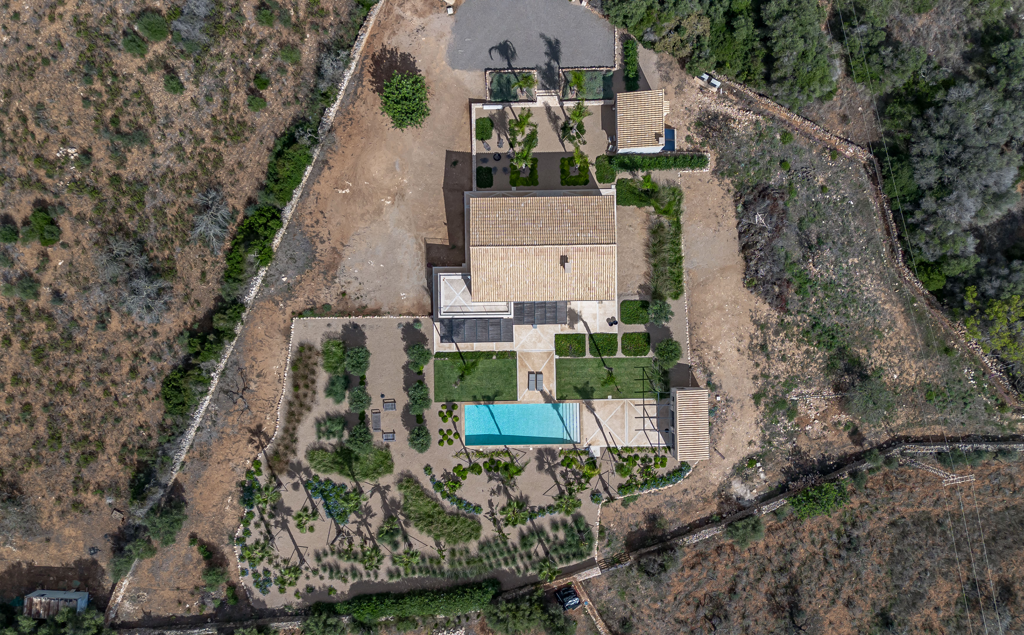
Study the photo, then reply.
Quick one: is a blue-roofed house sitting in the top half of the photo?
No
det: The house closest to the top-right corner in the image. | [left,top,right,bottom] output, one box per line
[615,88,672,152]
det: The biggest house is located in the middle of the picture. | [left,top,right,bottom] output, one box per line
[439,195,617,318]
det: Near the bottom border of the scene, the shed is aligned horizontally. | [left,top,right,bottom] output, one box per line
[23,590,91,618]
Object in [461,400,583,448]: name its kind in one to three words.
swimming pool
